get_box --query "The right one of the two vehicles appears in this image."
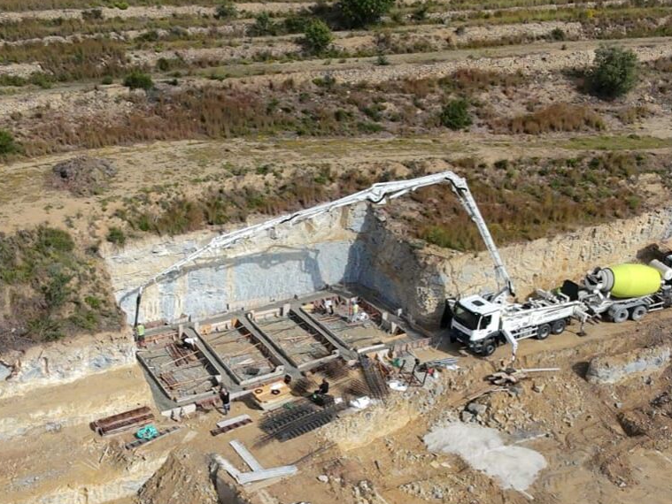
[577,251,672,321]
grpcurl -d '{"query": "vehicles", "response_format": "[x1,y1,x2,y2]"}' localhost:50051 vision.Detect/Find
[135,169,594,365]
[577,251,672,321]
